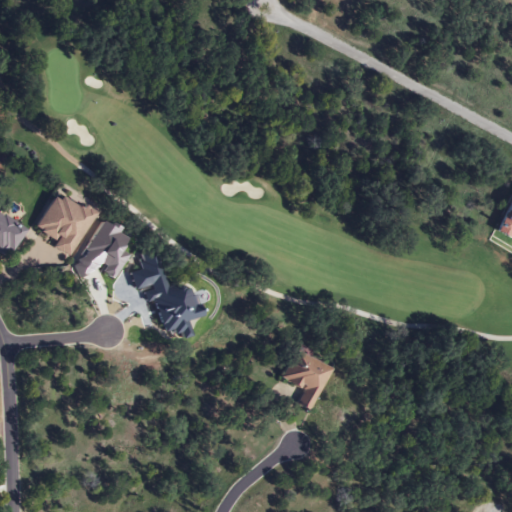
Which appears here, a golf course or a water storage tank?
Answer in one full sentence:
Looking from above, you can make out a golf course.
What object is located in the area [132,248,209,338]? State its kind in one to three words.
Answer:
house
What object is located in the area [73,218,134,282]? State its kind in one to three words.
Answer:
house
